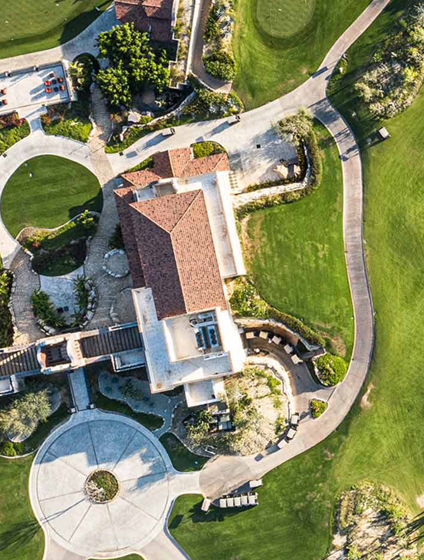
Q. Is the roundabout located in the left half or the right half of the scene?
left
